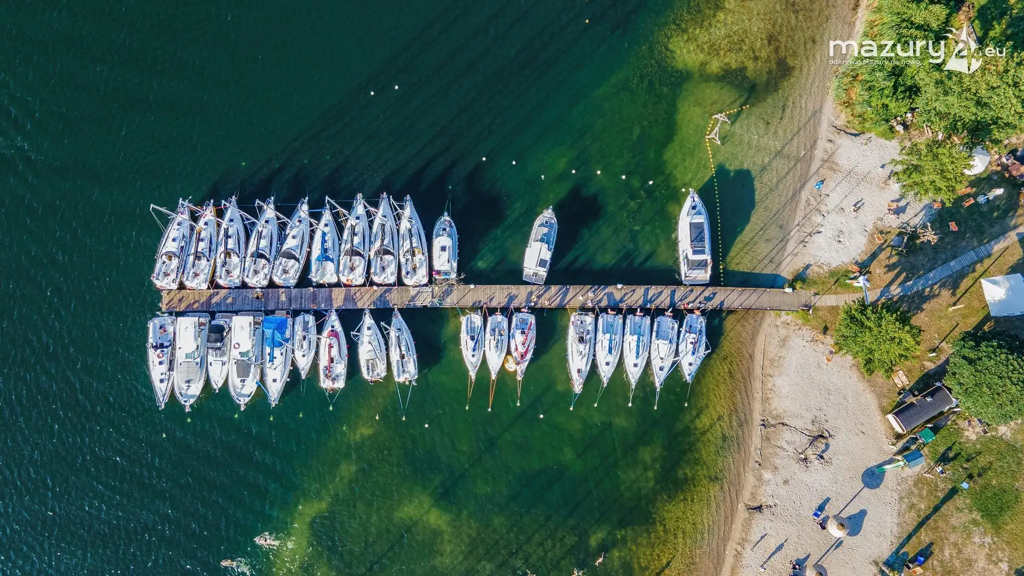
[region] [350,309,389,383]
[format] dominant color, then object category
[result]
white boat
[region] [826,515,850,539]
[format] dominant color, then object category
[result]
white umbrella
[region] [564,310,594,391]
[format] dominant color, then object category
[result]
white boat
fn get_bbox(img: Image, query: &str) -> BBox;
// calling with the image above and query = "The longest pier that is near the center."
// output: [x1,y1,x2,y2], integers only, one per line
[160,284,818,313]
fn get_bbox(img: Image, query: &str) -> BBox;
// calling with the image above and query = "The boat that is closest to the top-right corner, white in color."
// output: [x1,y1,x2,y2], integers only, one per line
[677,190,712,287]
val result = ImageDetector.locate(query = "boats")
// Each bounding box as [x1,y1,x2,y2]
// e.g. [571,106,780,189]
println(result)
[677,309,714,381]
[153,196,191,291]
[221,195,281,289]
[327,193,370,287]
[225,311,264,404]
[257,197,313,289]
[382,308,419,385]
[432,199,461,284]
[350,309,389,383]
[523,205,559,284]
[302,308,352,393]
[593,311,622,385]
[564,310,594,391]
[146,313,176,409]
[292,204,340,287]
[204,317,233,388]
[170,312,211,404]
[360,191,399,288]
[151,198,221,291]
[485,311,508,378]
[621,311,654,387]
[390,193,427,288]
[459,310,485,380]
[502,353,516,374]
[677,190,712,287]
[277,310,320,377]
[182,195,247,289]
[509,309,534,379]
[649,312,685,389]
[234,314,294,406]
